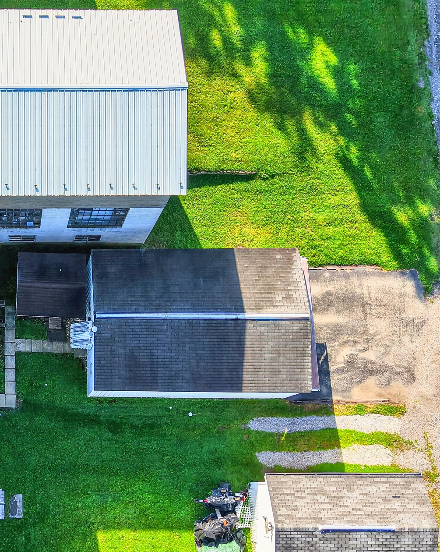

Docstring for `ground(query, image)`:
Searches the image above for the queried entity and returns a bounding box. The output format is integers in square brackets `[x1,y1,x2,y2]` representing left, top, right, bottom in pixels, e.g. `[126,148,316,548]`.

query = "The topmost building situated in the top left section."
[0,10,189,245]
